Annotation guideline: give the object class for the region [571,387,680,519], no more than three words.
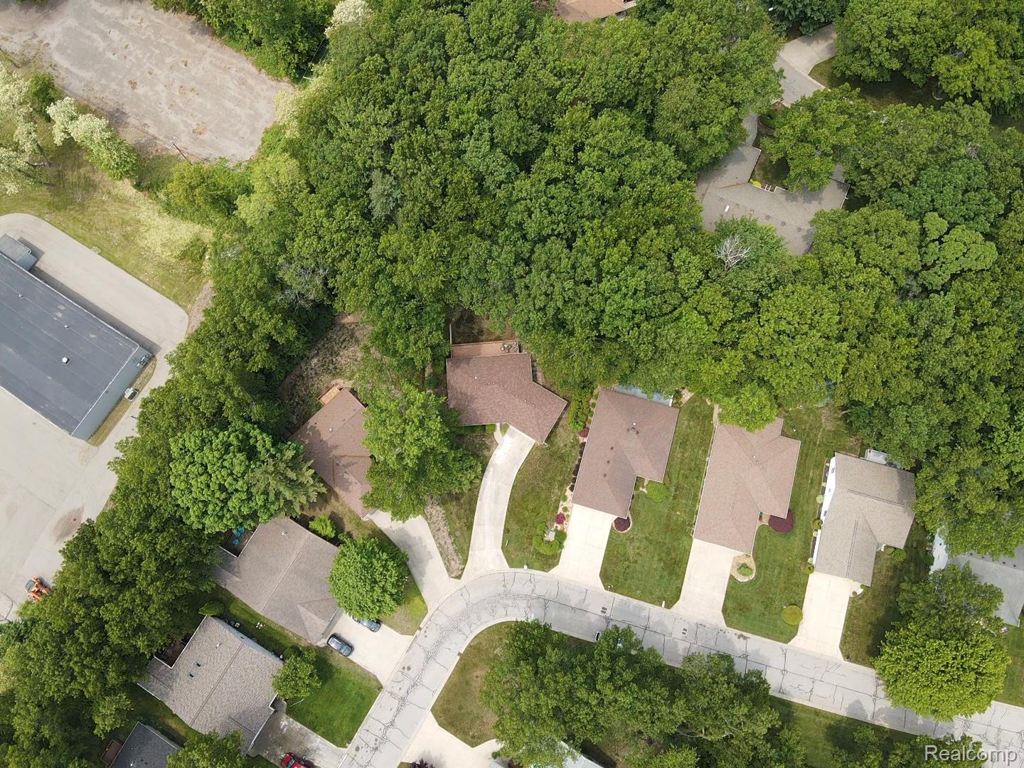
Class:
house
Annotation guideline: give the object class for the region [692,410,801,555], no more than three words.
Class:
house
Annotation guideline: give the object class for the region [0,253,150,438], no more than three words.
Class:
warehouse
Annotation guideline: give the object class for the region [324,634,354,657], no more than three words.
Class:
car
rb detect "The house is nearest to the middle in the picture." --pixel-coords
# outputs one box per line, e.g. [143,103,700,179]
[446,353,568,443]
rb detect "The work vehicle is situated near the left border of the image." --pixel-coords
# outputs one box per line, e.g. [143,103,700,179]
[15,576,49,602]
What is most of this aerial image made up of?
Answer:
trees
